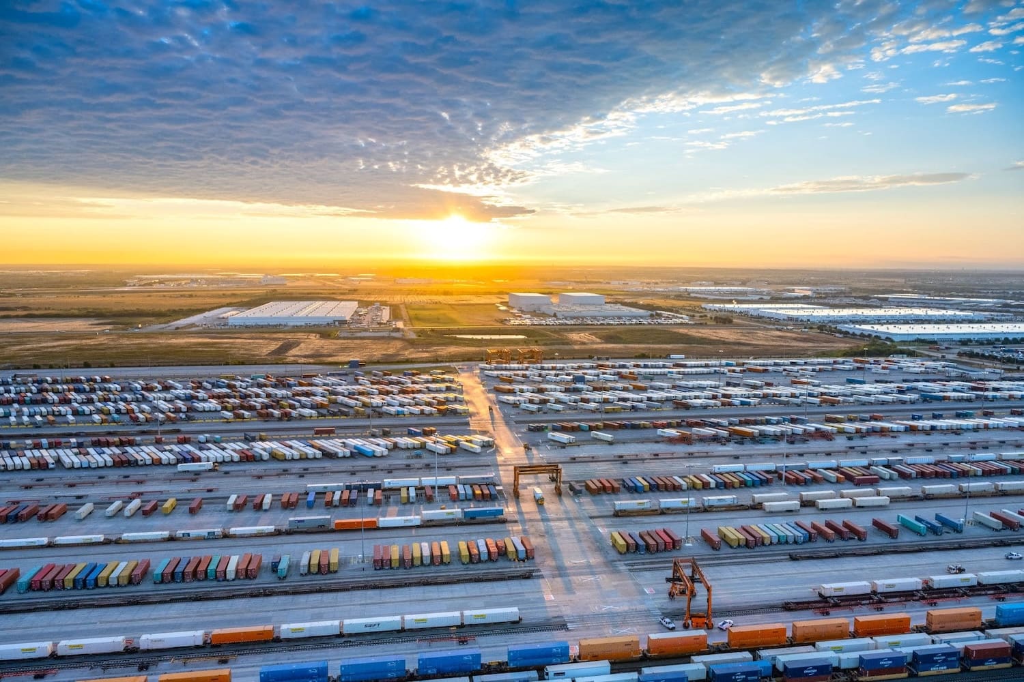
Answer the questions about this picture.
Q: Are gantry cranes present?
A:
Yes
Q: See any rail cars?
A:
Yes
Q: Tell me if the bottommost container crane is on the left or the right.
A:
right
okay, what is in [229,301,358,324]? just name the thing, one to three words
building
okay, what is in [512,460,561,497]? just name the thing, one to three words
container crane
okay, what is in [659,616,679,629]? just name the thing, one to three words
vehicle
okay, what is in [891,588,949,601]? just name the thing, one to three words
rail car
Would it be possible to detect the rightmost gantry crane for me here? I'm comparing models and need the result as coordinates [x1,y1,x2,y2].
[664,555,718,628]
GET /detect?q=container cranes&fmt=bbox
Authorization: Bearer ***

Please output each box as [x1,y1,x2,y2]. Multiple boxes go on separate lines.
[664,555,718,628]
[515,346,541,364]
[485,346,510,364]
[512,460,561,497]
